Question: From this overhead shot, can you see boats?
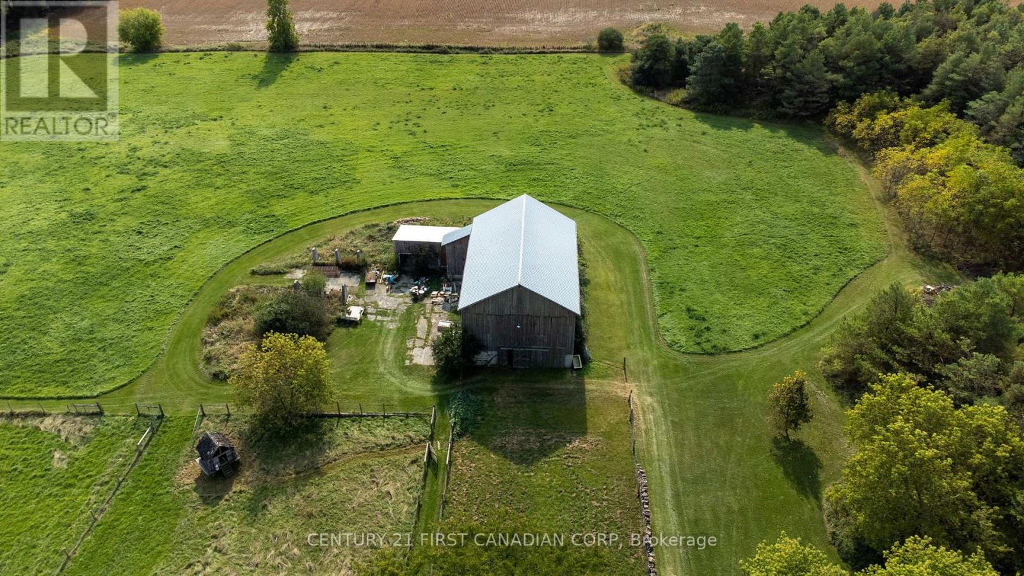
No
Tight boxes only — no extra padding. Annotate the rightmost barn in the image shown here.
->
[456,193,580,370]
